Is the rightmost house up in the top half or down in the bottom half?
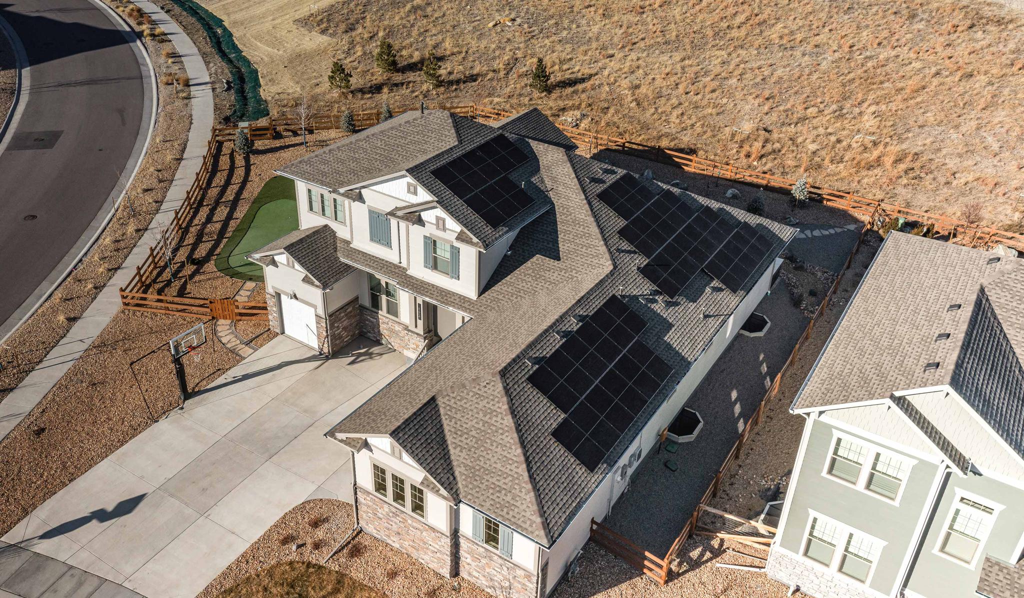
bottom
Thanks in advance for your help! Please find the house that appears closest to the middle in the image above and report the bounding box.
[243,94,799,598]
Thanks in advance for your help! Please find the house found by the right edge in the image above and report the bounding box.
[700,230,1024,598]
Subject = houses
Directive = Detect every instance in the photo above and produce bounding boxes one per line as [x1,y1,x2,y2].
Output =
[243,94,799,598]
[700,230,1024,598]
